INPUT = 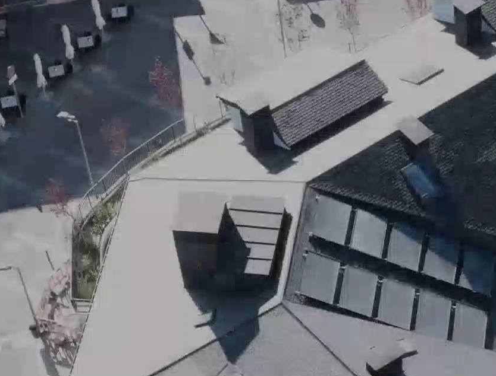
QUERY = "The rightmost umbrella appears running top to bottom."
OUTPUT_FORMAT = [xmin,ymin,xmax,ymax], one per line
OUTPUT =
[94,0,110,36]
